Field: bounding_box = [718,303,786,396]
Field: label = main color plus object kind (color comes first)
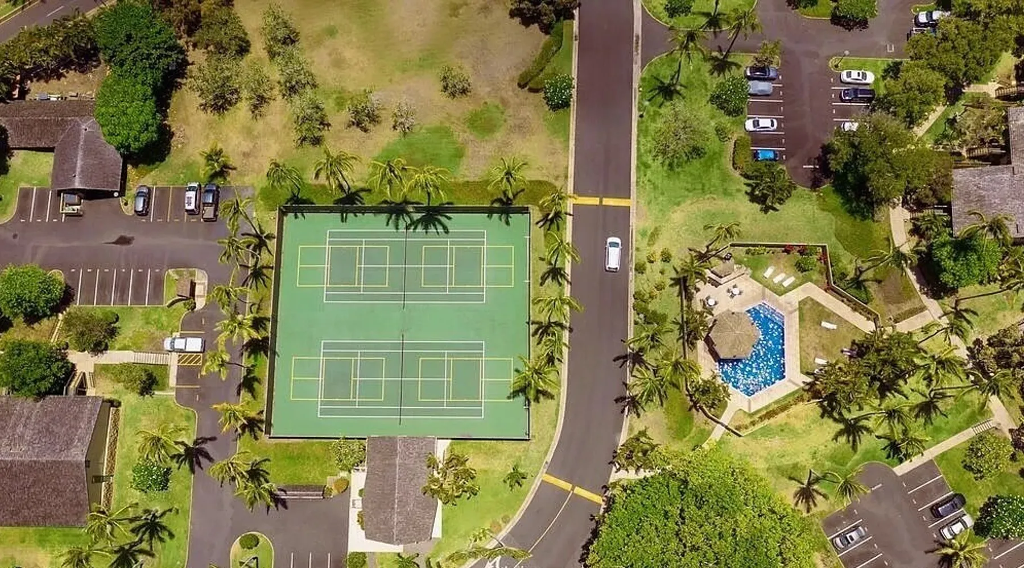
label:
blue swimming pool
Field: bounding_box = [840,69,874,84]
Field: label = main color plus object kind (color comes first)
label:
white car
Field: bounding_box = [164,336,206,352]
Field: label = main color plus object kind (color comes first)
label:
white vehicle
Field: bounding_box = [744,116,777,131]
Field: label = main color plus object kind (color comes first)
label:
white car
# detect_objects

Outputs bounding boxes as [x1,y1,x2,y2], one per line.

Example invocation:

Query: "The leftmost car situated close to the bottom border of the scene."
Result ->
[831,526,866,549]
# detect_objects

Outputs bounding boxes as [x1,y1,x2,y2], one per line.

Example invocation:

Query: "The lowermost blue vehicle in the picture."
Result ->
[752,148,780,162]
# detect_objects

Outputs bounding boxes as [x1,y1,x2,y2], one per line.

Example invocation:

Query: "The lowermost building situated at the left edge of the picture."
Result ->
[0,396,111,527]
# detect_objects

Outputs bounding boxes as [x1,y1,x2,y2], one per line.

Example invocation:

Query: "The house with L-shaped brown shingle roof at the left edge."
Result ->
[0,100,124,192]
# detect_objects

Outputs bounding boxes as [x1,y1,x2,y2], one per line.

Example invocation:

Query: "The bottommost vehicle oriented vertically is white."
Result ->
[605,237,622,272]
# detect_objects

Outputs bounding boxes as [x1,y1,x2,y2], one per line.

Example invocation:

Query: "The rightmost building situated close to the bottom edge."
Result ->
[362,438,438,545]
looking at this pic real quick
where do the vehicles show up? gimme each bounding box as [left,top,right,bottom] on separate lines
[938,515,975,540]
[831,526,866,549]
[929,494,968,519]
[914,10,947,26]
[752,148,780,162]
[839,87,875,103]
[605,237,622,272]
[185,182,203,215]
[747,80,774,94]
[744,65,777,80]
[840,69,874,84]
[164,336,206,352]
[744,116,777,131]
[202,183,220,221]
[133,186,152,216]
